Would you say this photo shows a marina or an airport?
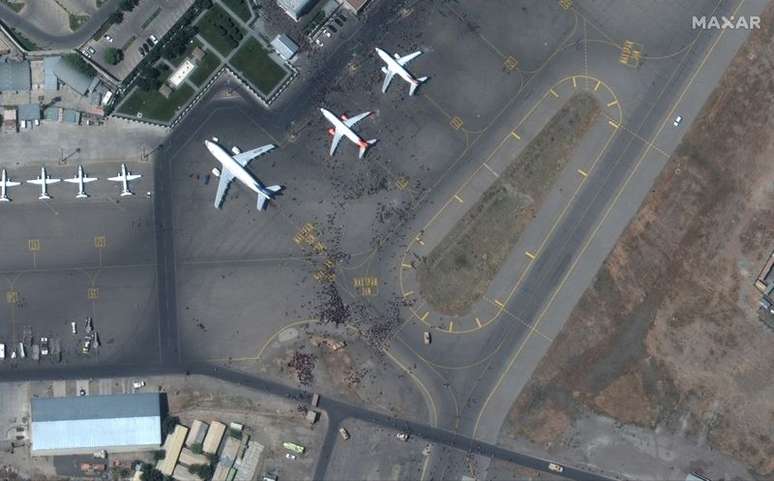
airport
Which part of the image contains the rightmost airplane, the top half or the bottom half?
top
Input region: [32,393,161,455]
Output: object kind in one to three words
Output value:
hangar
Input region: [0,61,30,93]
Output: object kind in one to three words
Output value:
building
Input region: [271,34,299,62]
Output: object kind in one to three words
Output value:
building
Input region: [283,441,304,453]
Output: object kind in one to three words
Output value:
vehicle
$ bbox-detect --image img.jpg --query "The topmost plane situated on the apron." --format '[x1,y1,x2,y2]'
[375,48,429,95]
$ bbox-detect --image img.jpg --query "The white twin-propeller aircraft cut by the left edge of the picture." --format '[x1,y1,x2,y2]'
[0,169,21,199]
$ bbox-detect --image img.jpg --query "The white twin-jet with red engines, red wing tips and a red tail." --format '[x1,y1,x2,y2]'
[321,109,376,155]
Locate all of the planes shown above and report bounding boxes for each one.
[375,48,429,95]
[0,169,21,199]
[27,168,60,197]
[107,163,141,194]
[64,166,98,195]
[321,109,376,155]
[205,140,284,210]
